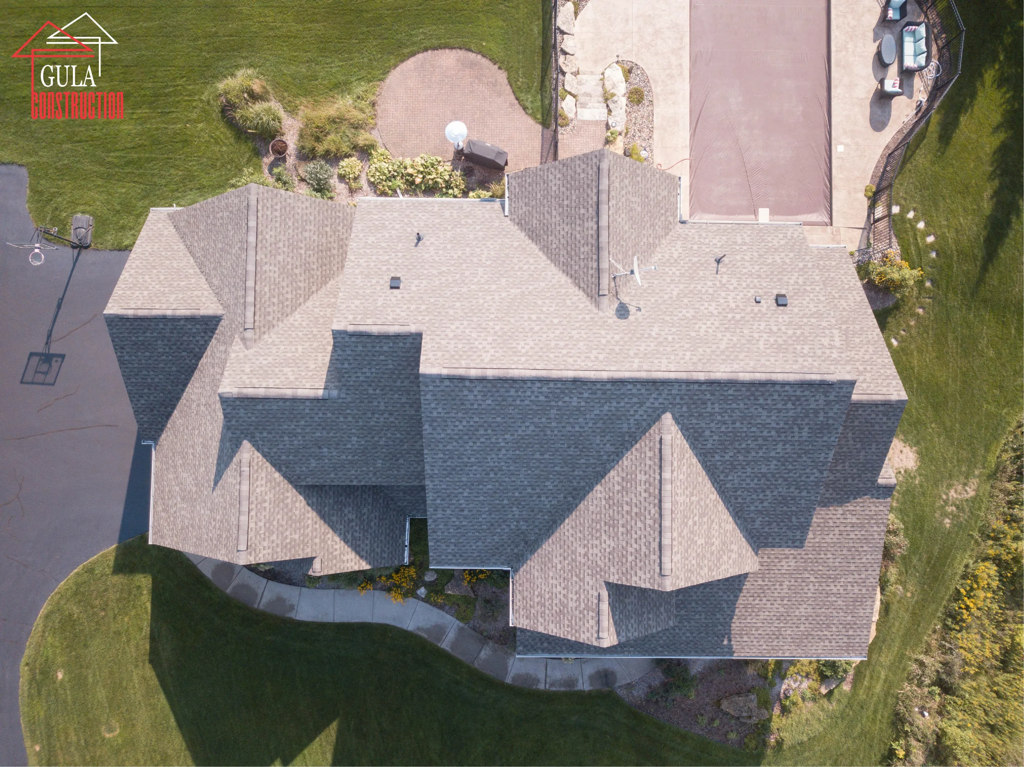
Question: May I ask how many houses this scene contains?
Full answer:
Altogether the scene contains 1 house.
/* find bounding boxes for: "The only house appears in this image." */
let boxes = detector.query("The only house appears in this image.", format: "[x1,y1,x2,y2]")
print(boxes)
[103,148,908,661]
